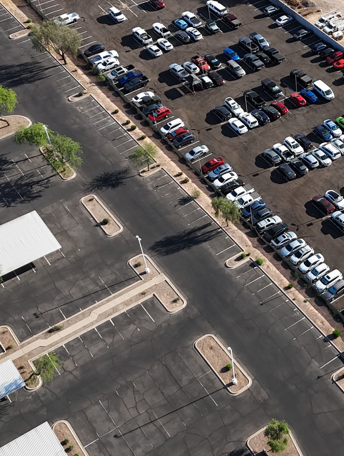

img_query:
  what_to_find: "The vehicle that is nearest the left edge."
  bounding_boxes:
[54,11,79,25]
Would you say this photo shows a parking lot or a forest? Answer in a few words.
parking lot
